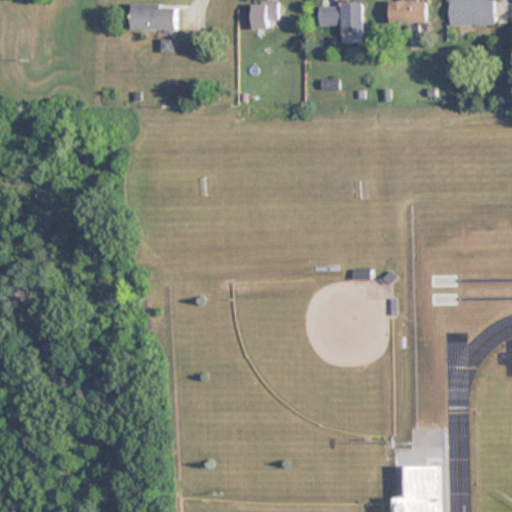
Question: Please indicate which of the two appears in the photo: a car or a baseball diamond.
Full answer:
The image shows a baseball diamond.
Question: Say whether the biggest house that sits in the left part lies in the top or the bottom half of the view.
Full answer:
It is in the top half that the biggest house that sits in the left part appears.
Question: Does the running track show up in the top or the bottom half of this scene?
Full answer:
You can find the running track in the bottom half.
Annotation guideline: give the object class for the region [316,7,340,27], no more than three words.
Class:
building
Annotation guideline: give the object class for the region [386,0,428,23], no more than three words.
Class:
house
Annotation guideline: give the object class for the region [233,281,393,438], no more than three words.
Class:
baseball field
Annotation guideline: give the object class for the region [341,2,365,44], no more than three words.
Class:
house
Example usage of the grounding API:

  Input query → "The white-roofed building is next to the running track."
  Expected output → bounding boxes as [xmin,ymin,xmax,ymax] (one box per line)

[391,465,442,512]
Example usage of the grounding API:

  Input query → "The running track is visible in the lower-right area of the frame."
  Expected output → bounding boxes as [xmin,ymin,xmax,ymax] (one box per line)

[446,314,512,512]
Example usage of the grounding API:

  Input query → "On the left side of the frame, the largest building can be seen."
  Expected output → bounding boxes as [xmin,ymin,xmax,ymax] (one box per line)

[128,3,180,31]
